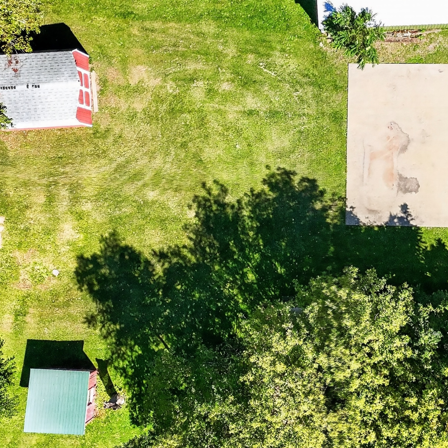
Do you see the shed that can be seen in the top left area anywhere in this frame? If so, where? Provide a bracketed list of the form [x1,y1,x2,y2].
[0,46,92,132]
